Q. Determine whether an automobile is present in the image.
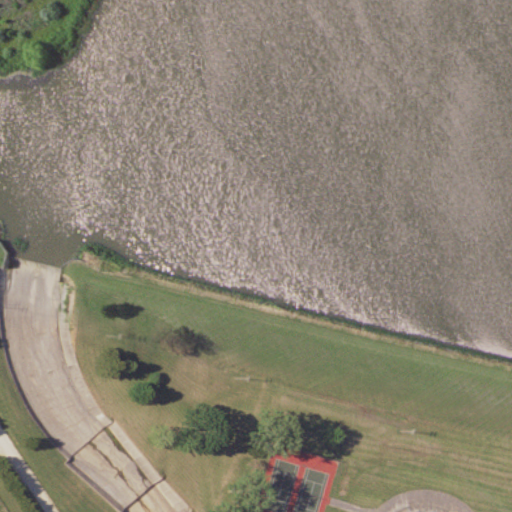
No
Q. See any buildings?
No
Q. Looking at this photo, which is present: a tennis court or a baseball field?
tennis court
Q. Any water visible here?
Yes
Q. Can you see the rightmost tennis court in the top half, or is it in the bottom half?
bottom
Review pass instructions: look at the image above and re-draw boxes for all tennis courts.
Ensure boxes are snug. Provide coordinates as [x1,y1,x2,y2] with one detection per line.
[264,460,299,512]
[294,468,329,512]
